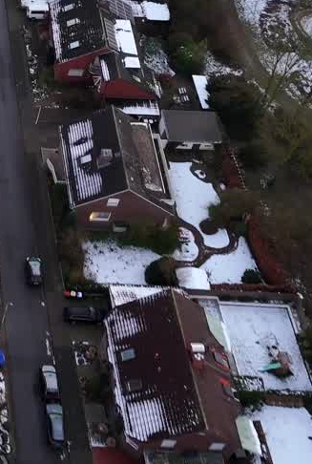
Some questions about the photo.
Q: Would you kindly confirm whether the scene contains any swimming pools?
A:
No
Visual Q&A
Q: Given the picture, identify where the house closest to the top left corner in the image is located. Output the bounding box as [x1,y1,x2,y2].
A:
[47,0,137,87]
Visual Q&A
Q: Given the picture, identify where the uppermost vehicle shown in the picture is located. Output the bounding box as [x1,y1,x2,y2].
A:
[14,1,56,20]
